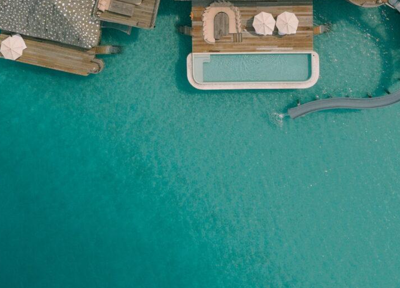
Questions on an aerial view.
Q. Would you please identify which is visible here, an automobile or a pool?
pool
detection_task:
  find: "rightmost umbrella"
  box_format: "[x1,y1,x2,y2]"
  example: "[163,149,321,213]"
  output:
[276,11,298,33]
